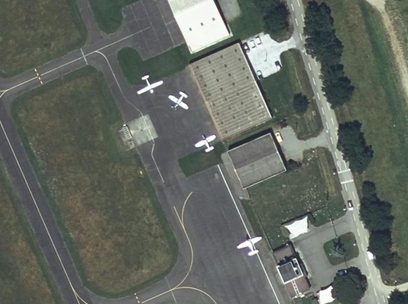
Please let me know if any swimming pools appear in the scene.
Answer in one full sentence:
No, no swimming pool is visible in the scene.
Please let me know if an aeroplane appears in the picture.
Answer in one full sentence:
Yes, the image includes an aeroplane.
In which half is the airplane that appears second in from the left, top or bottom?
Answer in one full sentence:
The top half of the photo is where the airplane that appears second in from the left is.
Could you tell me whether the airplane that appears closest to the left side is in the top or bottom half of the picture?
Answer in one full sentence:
The top half of the photo is where the airplane that appears closest to the left side is.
